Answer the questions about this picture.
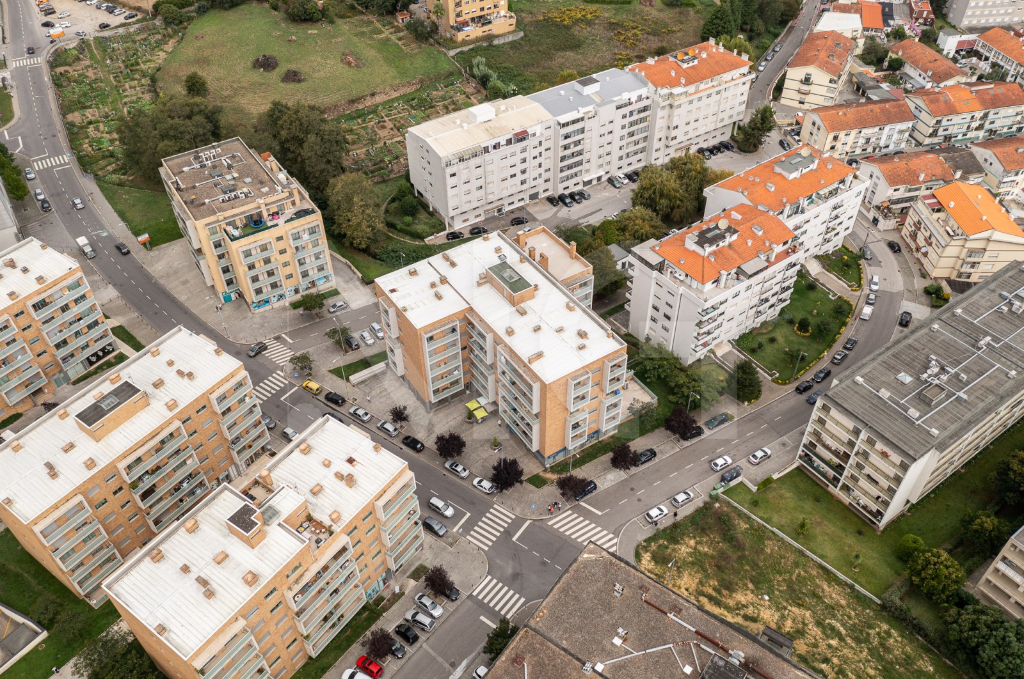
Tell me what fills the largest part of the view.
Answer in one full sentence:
For the most part, this view shows buildings.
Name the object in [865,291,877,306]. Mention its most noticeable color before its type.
gray vehicle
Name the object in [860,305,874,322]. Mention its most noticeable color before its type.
white vehicle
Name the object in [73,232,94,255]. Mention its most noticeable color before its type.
white truck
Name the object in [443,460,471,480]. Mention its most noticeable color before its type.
gray car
